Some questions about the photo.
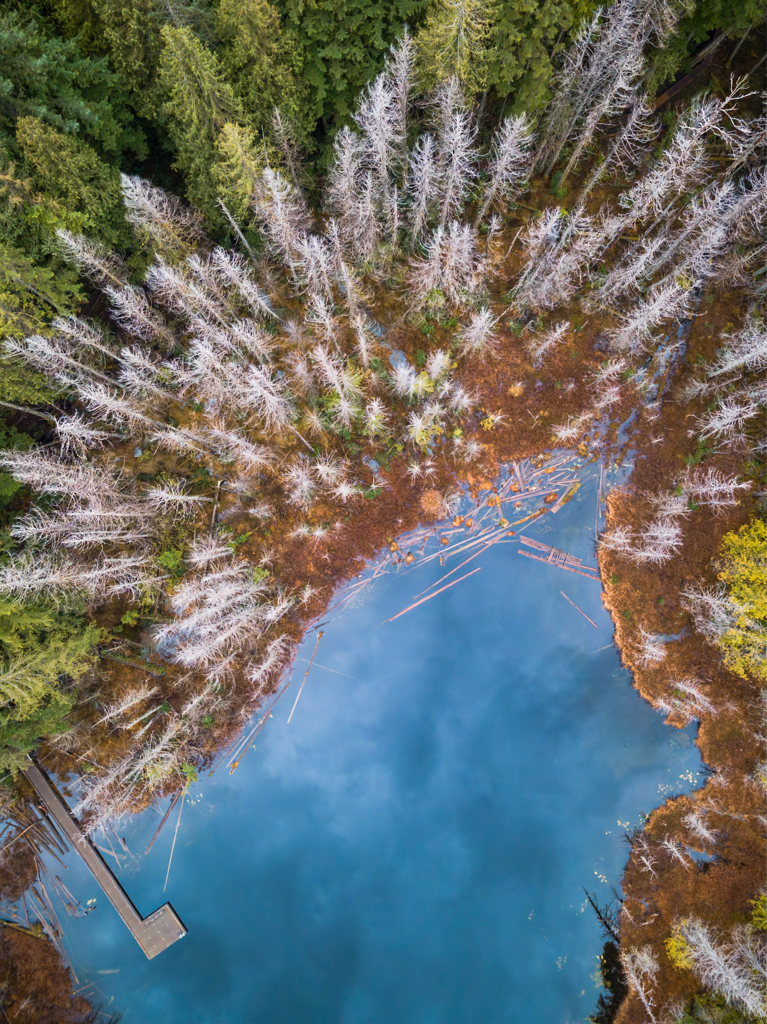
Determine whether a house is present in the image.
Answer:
No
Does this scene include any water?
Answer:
Yes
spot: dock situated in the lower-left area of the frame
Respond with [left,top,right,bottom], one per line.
[21,755,188,961]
